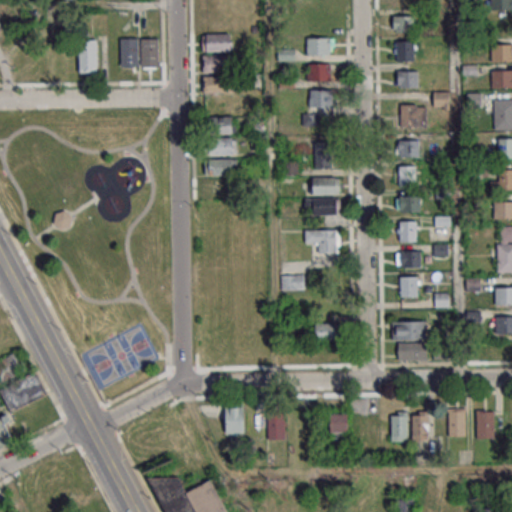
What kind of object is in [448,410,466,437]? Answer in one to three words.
house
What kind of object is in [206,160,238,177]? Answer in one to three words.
house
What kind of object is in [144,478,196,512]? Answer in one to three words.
building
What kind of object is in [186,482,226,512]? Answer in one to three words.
building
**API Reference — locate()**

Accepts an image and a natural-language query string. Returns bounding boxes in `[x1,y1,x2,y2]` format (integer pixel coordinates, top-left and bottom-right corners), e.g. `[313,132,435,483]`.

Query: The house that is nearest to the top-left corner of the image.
[78,39,98,74]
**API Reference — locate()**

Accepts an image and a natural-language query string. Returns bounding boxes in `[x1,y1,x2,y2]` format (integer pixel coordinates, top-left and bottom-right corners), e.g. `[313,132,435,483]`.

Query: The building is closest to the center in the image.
[282,275,306,292]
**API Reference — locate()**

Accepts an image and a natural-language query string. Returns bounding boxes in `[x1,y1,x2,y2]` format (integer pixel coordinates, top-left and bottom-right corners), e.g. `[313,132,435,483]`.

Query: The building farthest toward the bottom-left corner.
[1,376,46,412]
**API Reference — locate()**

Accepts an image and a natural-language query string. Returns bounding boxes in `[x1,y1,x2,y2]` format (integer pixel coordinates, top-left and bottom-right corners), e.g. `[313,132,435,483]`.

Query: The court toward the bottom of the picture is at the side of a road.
[83,324,159,390]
